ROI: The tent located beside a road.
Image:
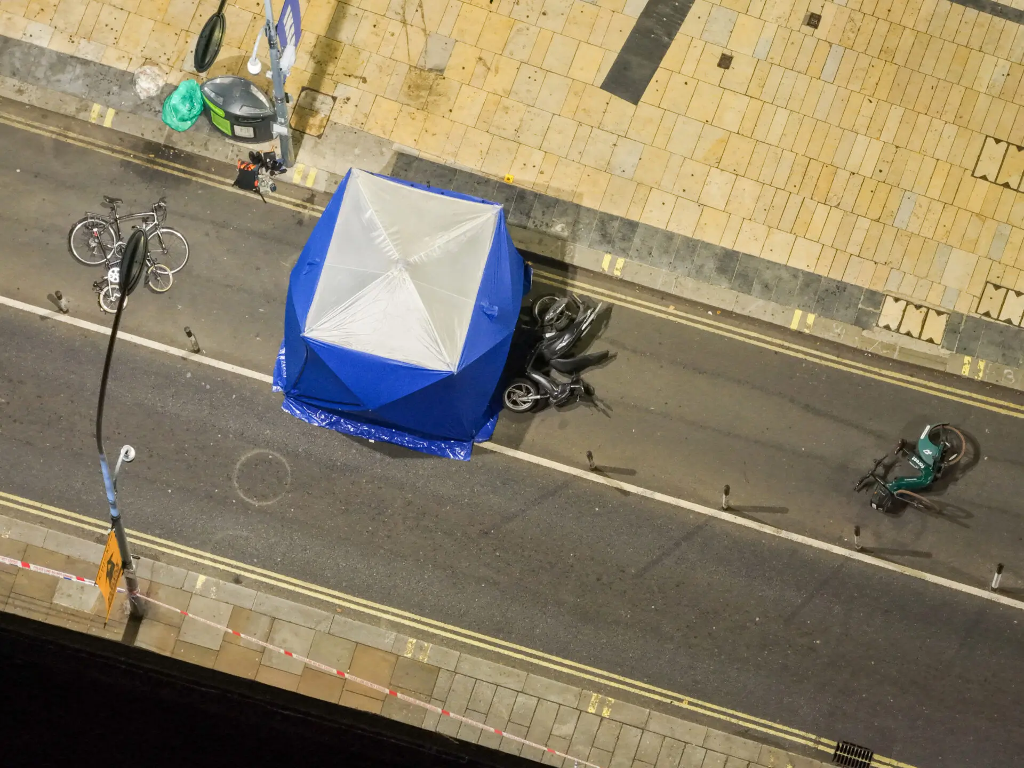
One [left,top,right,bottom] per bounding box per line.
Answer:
[272,168,533,460]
